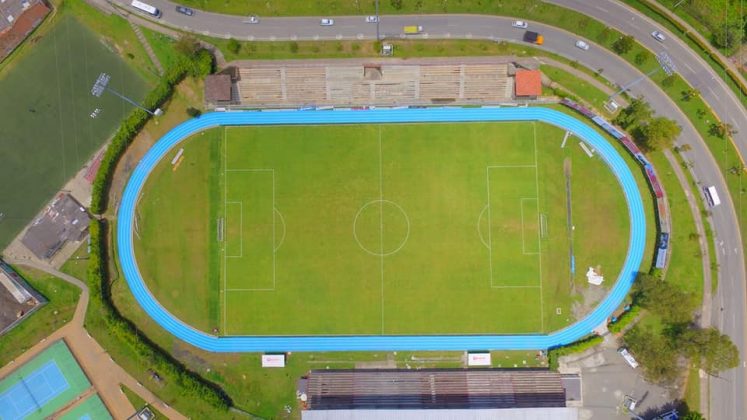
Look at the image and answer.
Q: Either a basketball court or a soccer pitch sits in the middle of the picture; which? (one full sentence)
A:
Visible in the middle of the picture is a soccer pitch.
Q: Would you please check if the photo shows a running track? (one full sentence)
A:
Yes, the photo shows a running track.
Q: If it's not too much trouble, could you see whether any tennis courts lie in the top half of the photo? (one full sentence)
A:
No, no tennis court can be made out in the top half of the photo.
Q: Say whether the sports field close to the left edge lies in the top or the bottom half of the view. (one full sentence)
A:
The sports field close to the left edge sits in the top half of the picture.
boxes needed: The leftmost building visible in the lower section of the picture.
[0,257,53,337]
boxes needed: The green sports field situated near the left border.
[0,15,154,252]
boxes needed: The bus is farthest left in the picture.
[131,0,163,20]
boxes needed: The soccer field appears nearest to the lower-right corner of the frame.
[222,124,544,336]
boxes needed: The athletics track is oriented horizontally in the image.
[118,109,645,353]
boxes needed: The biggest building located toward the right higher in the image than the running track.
[512,70,542,100]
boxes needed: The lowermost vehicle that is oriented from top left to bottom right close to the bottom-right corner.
[614,344,637,370]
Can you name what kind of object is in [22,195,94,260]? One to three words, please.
building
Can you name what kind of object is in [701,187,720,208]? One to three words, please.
vehicle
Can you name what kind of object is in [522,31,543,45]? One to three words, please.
vehicle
